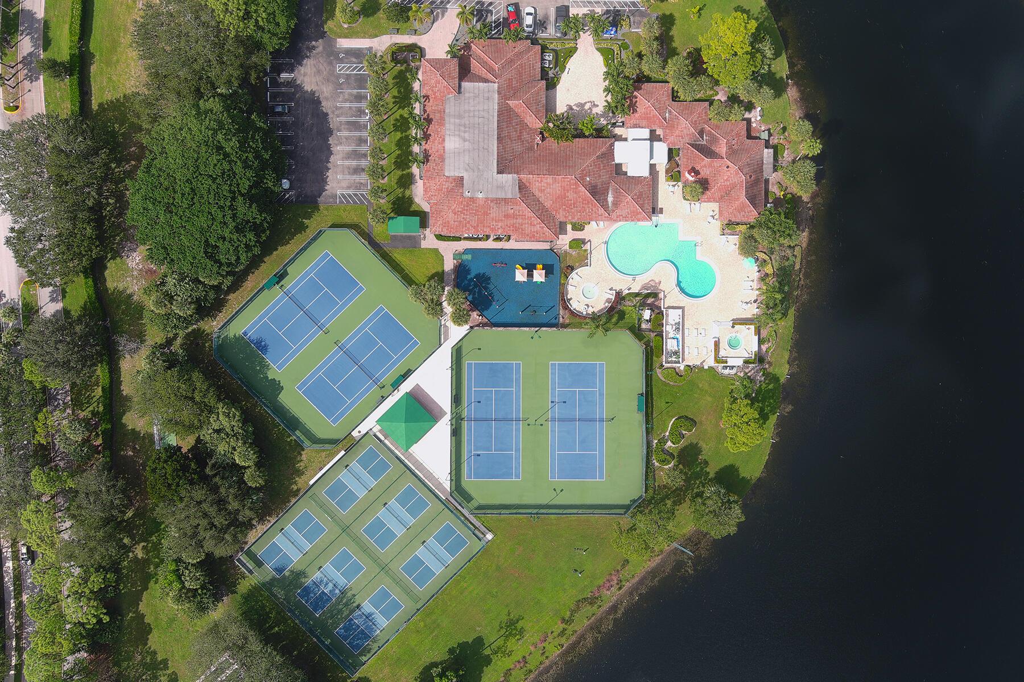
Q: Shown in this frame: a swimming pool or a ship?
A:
swimming pool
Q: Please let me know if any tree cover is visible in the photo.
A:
Yes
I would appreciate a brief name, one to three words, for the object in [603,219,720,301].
swimming pool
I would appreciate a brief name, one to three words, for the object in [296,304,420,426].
tennis court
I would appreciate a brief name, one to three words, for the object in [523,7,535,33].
vehicle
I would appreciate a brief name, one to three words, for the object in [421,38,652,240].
building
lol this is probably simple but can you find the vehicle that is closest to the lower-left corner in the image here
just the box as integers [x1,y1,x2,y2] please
[19,542,35,565]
